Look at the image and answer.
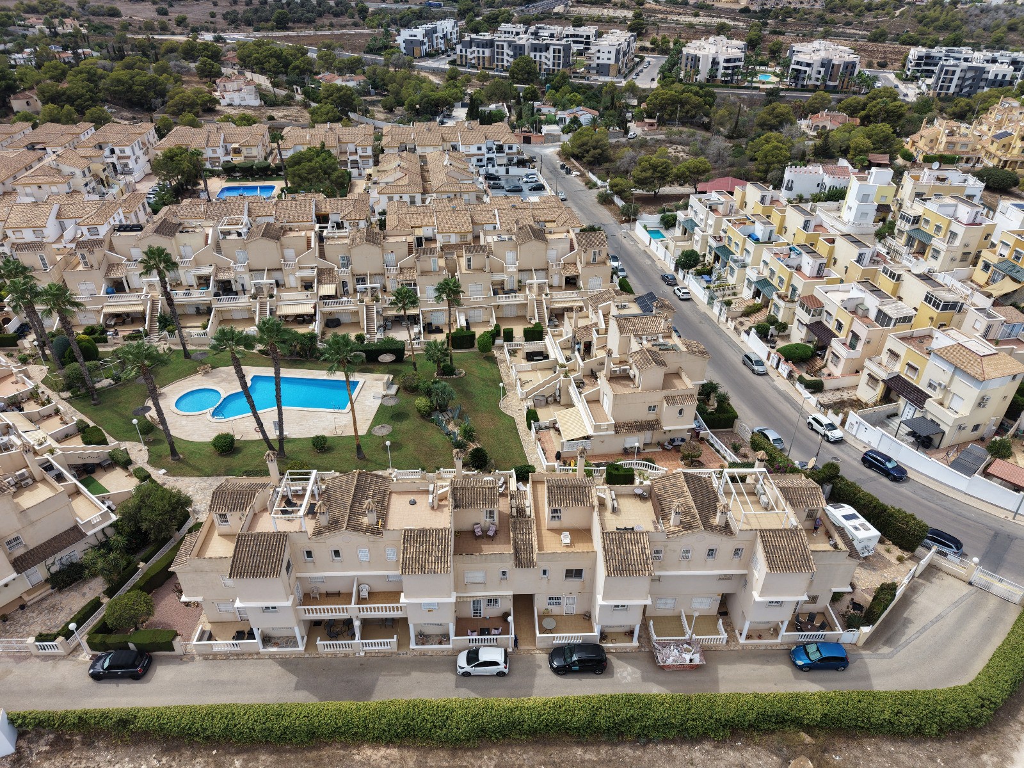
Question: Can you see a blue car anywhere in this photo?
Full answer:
Yes, a blue car appears in the view.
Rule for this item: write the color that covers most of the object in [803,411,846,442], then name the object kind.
white car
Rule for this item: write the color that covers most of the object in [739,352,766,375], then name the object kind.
gray car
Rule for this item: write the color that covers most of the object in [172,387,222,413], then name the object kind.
blue swimming pool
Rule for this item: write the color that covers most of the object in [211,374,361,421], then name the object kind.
blue swimming pool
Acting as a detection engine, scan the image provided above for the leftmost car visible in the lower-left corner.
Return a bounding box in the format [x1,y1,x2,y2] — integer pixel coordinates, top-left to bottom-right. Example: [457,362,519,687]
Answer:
[89,652,151,684]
